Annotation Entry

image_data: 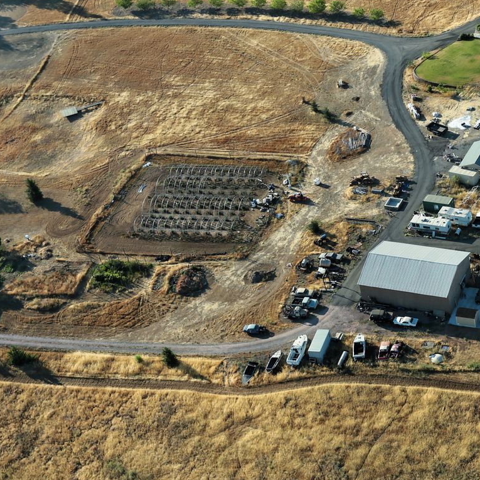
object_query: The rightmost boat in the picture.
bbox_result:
[352,332,365,356]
